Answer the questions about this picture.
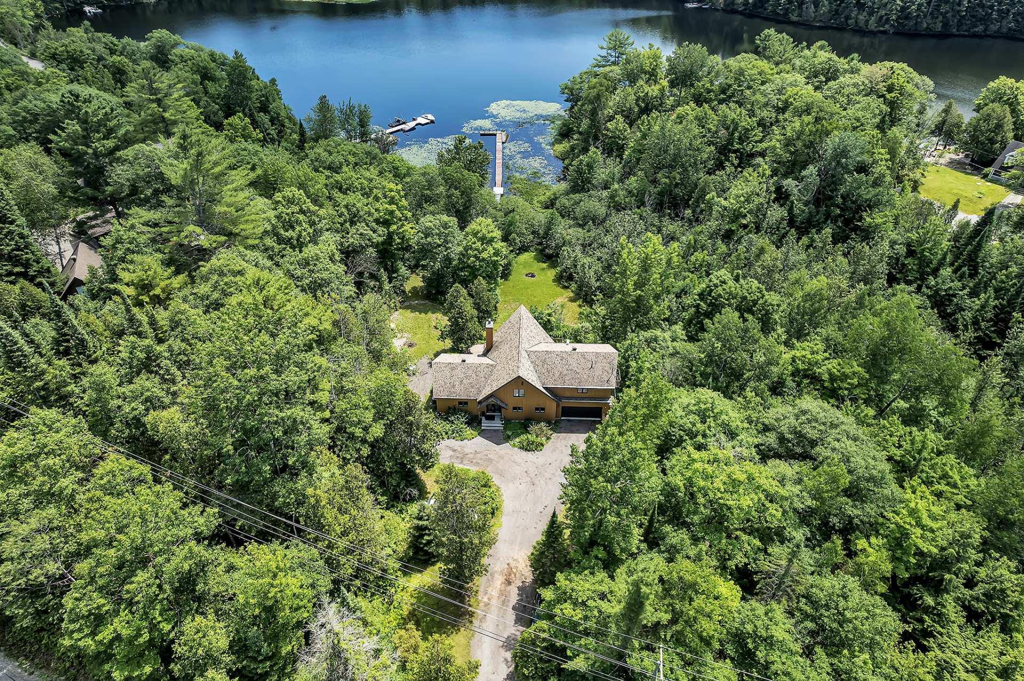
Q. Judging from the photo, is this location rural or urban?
rural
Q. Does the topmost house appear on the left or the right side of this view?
right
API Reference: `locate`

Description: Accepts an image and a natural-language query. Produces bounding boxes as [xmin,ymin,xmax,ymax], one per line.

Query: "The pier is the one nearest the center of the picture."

[481,129,505,187]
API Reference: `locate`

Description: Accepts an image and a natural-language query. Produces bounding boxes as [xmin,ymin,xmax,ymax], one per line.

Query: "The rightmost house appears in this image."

[984,139,1024,197]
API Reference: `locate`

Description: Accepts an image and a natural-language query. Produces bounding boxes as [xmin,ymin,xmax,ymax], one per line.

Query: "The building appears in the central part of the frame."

[432,305,625,431]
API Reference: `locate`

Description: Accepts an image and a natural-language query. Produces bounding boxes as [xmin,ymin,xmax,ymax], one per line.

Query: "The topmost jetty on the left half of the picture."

[373,113,435,137]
